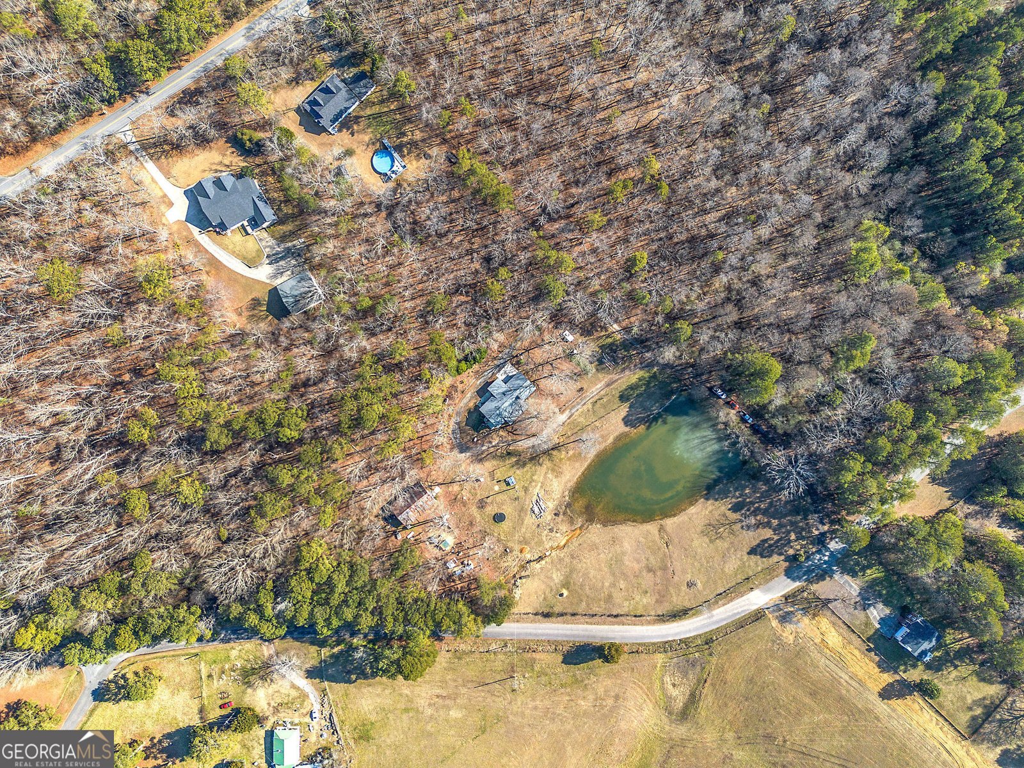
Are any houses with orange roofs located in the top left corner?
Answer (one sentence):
No, no house with an orange roof can be made out in the top left corner.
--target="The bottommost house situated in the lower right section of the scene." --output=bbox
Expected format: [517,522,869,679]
[894,609,942,662]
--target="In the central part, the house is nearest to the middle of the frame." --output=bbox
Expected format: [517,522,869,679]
[478,362,536,428]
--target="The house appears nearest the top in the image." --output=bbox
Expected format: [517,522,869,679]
[296,71,375,138]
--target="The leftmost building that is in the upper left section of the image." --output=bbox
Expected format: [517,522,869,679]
[191,172,276,234]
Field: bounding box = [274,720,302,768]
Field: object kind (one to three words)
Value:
house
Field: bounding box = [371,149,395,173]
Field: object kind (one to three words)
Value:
swimming pool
